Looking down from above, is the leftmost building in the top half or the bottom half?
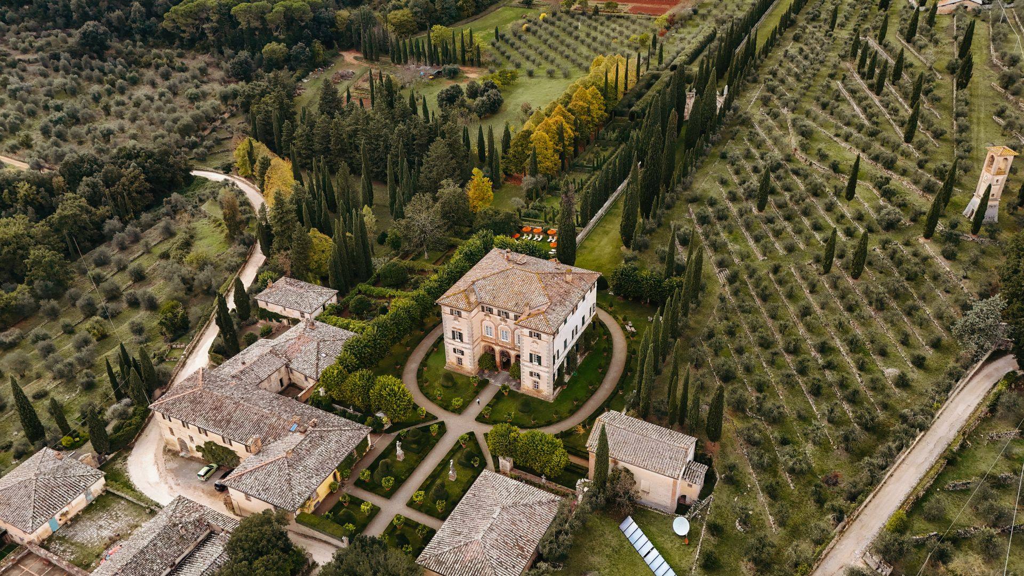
bottom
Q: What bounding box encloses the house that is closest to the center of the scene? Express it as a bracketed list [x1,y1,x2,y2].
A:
[435,247,604,402]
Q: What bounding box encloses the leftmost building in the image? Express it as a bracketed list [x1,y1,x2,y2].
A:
[0,446,105,543]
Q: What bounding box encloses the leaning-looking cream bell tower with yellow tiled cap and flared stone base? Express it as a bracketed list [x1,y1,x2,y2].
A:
[958,142,1021,222]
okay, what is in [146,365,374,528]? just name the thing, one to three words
building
